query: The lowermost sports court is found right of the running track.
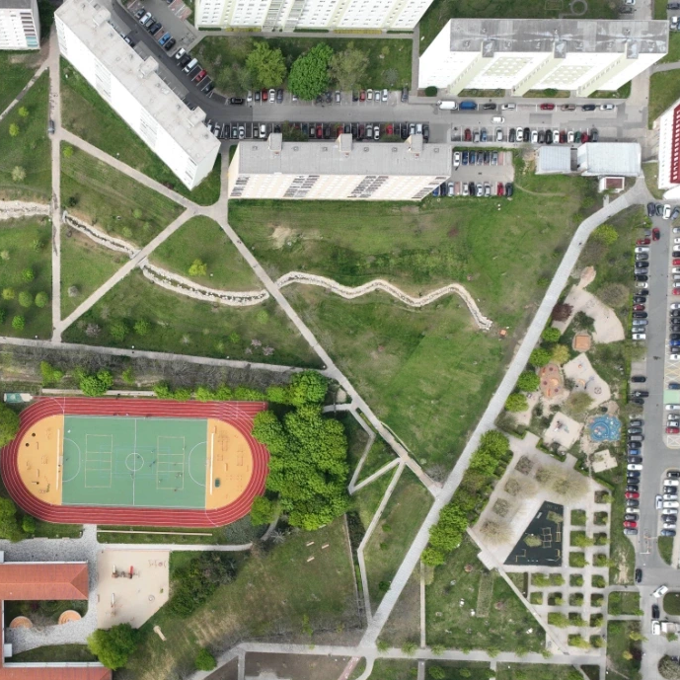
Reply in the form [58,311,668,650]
[504,501,564,567]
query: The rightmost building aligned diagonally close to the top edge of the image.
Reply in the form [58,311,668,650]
[54,0,221,190]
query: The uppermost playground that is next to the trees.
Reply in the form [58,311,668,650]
[540,363,563,398]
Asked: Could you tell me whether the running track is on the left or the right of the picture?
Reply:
left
